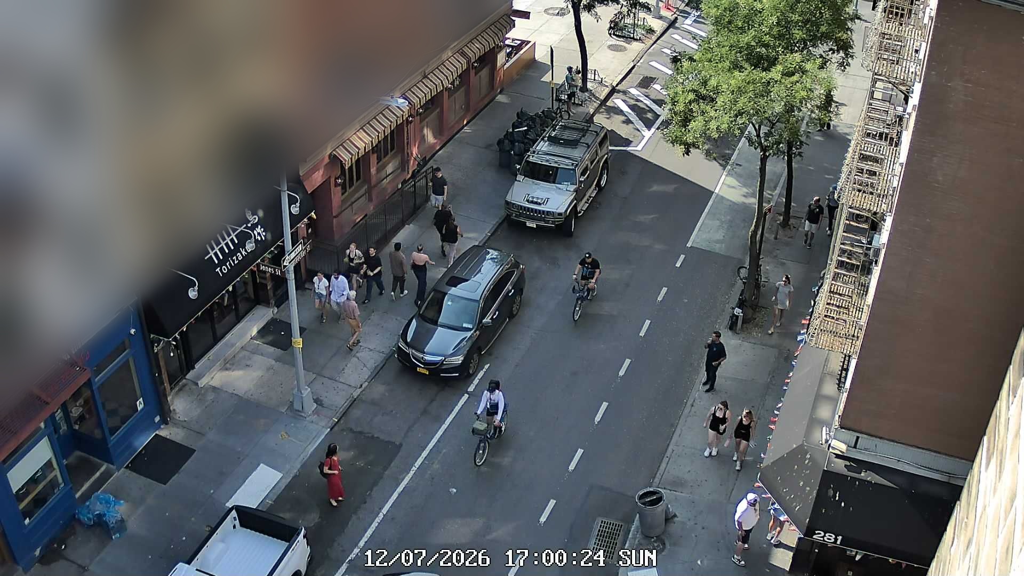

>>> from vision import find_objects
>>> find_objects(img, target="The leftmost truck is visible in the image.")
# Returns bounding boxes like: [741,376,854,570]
[161,506,318,576]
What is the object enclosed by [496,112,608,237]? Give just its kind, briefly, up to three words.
car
